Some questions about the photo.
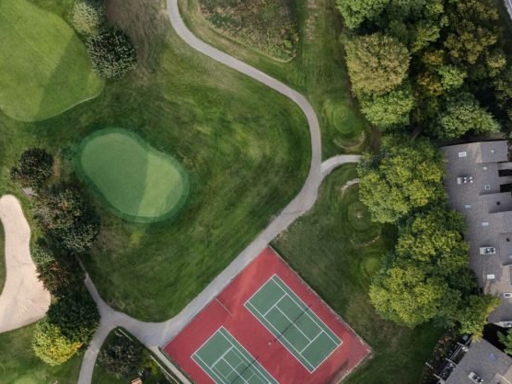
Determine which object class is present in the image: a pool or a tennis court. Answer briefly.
tennis court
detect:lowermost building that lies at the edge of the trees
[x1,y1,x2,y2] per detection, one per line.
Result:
[438,338,512,384]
